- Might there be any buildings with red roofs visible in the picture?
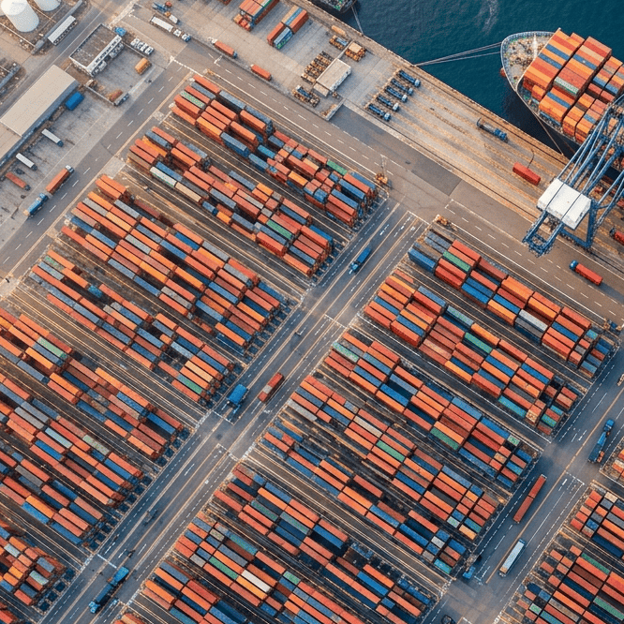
No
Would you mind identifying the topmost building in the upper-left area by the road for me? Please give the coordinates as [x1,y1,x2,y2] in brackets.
[63,16,121,73]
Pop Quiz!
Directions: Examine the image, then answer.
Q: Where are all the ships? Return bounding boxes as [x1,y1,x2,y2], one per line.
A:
[310,0,365,23]
[497,34,624,186]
